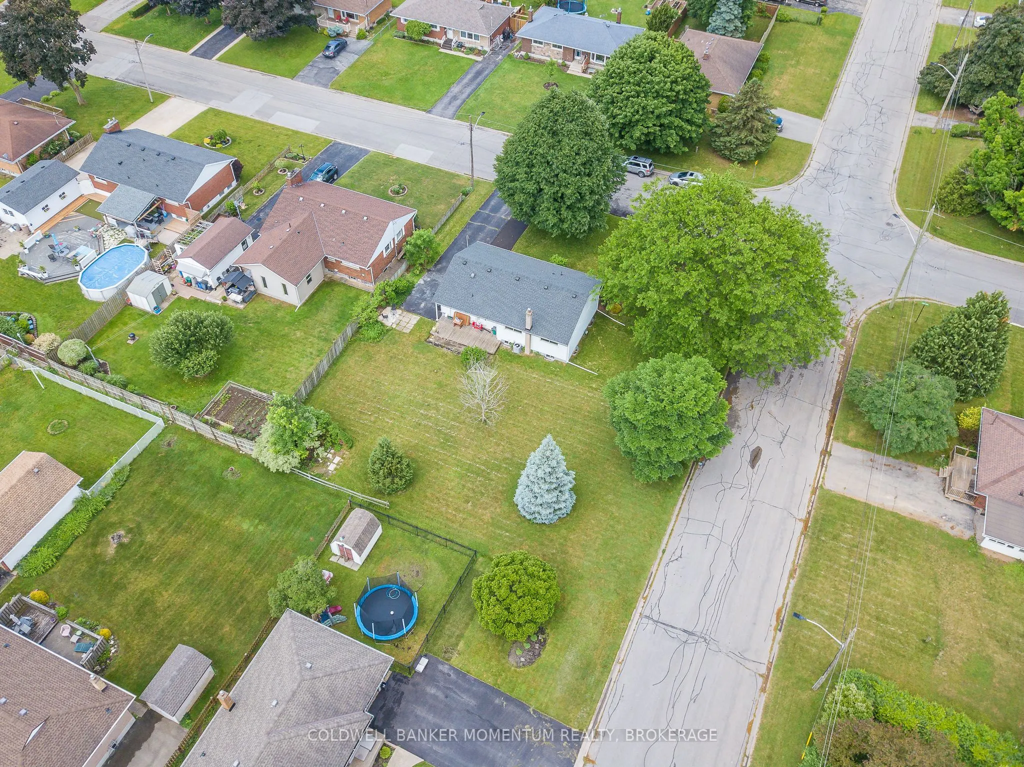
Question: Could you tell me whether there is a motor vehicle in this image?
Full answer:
Yes, this view includes a motor vehicle.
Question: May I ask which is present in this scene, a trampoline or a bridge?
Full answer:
The image shows a trampoline.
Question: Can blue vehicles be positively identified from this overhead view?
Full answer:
Yes, there's a blue vehicle down there.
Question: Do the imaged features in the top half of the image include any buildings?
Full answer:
Yes, a building shows up in the top half of the image.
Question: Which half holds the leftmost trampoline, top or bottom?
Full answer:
Seen from above, the leftmost trampoline lies in the bottom half of the view.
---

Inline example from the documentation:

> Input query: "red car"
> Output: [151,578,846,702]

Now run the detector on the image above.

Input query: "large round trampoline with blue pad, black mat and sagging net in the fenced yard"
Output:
[352,570,419,646]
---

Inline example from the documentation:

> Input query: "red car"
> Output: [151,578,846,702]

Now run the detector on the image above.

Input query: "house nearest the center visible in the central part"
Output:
[436,244,621,374]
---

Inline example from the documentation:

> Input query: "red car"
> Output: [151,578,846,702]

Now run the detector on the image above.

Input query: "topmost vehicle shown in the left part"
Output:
[319,43,348,62]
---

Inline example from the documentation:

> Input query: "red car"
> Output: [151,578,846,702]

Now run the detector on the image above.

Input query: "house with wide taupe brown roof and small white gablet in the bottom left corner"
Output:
[0,623,138,767]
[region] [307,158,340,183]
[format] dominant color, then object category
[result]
blue car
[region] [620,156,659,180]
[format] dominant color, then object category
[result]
gray car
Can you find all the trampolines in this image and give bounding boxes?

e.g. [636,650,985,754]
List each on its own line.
[557,0,587,13]
[352,570,419,646]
